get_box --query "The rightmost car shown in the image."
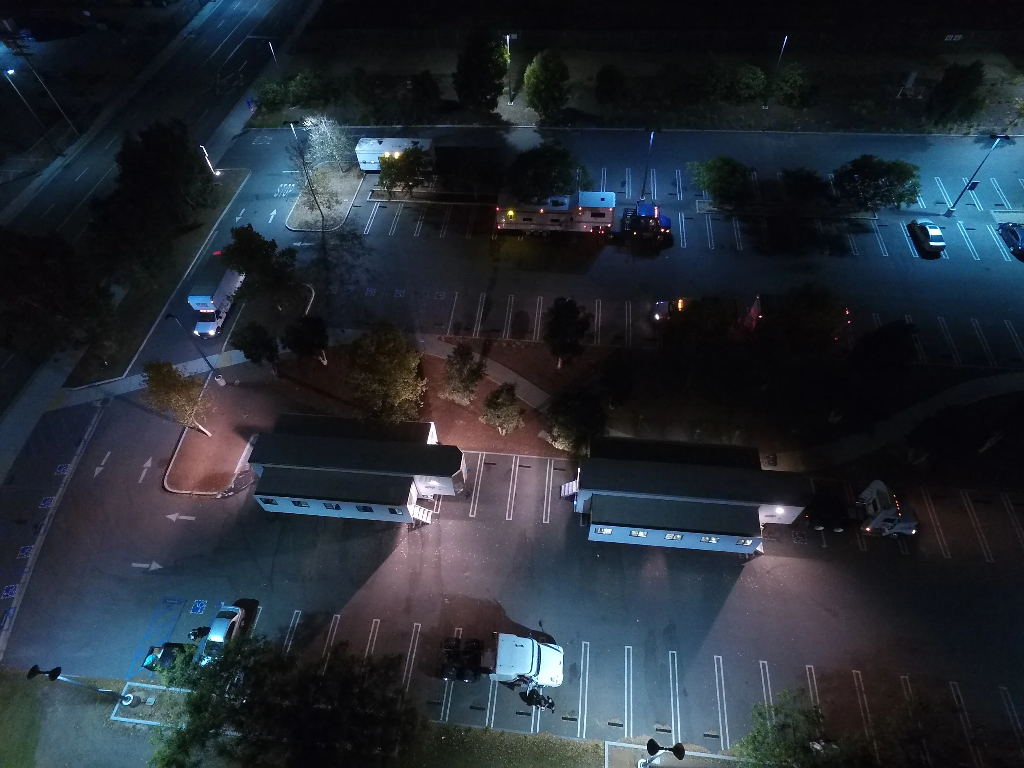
[997,223,1024,257]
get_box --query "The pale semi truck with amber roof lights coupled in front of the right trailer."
[797,483,917,537]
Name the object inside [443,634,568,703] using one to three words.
truck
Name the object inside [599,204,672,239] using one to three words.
truck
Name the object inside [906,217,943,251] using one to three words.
car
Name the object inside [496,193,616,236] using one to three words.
trailer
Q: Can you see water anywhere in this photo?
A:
No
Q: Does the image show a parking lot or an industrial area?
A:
parking lot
